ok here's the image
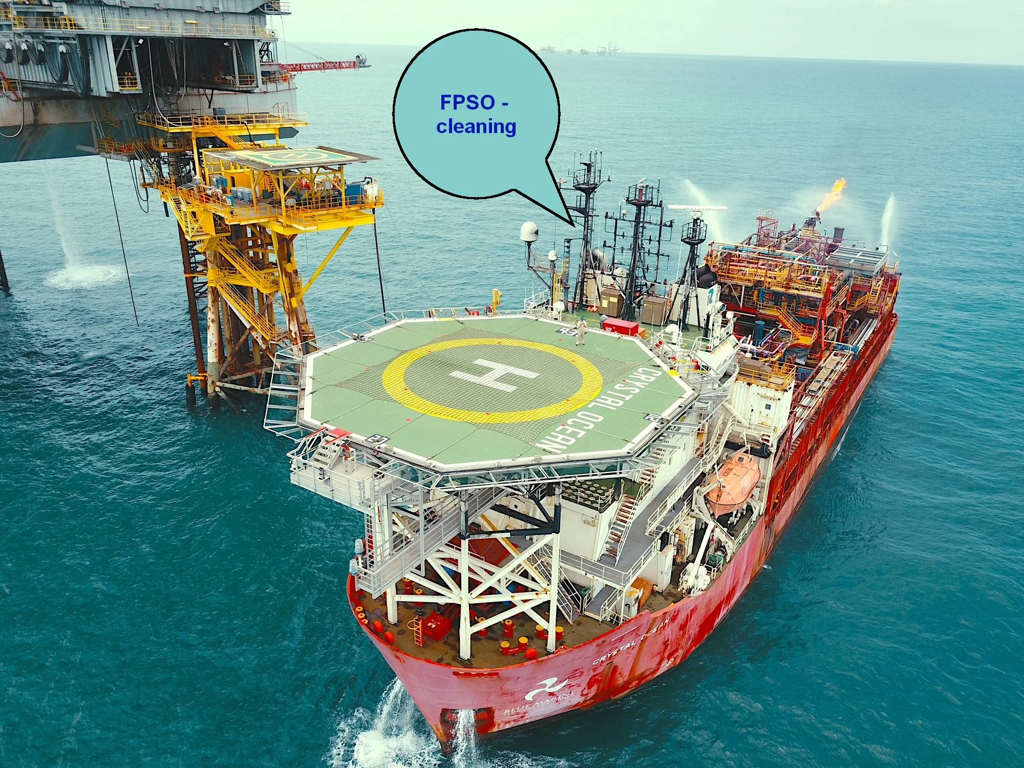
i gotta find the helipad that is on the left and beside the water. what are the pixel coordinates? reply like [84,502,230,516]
[205,146,381,231]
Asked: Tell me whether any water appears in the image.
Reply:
Yes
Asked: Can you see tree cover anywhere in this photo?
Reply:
No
